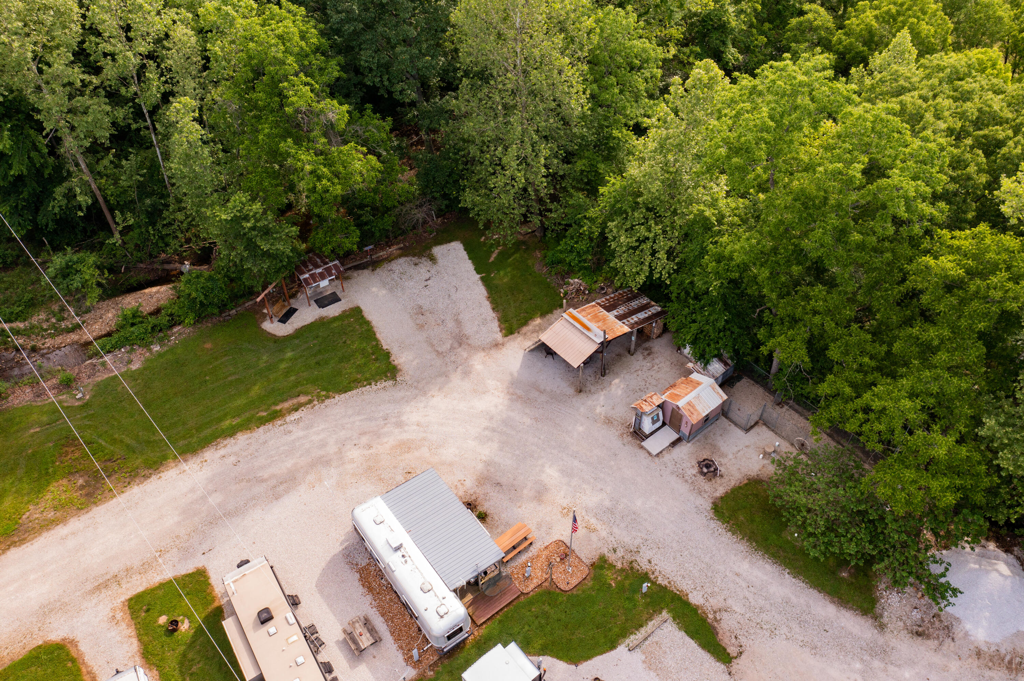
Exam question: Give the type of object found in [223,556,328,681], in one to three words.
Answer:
trailer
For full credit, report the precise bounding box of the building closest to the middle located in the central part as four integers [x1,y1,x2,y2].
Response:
[539,283,668,393]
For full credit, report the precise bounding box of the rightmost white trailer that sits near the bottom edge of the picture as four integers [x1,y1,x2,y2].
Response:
[462,641,542,681]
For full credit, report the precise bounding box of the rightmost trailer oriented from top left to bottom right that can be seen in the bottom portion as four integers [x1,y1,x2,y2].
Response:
[350,493,472,650]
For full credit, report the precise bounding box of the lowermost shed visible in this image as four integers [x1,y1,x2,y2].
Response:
[660,377,728,443]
